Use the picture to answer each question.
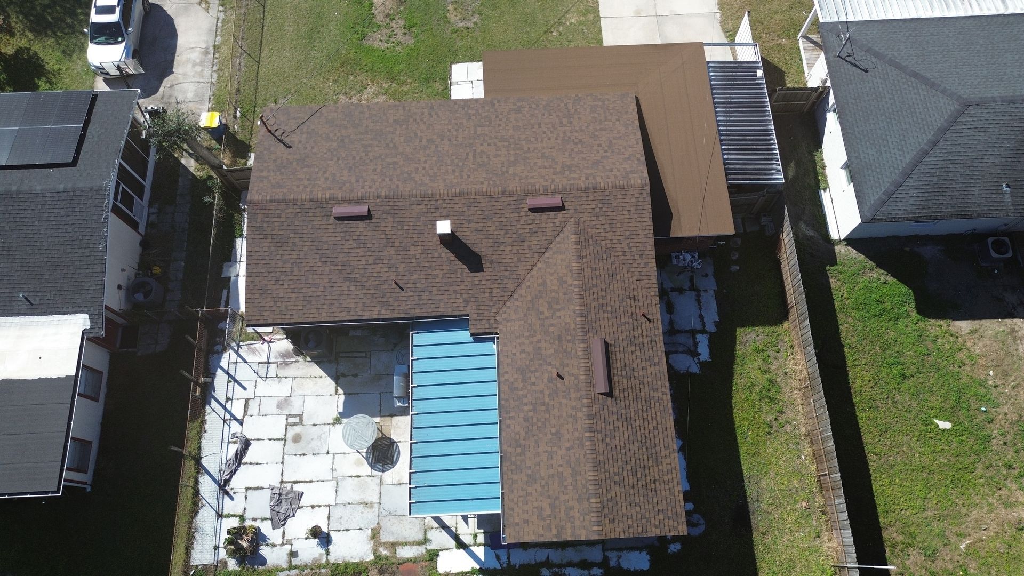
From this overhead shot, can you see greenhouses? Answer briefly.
No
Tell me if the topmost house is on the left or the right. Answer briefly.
right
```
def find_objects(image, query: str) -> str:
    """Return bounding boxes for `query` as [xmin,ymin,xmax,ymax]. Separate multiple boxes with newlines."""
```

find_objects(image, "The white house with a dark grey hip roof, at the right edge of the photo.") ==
[796,0,1024,240]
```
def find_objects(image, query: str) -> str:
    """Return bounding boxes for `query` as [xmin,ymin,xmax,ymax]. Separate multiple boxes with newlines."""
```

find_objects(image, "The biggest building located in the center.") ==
[245,46,732,542]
